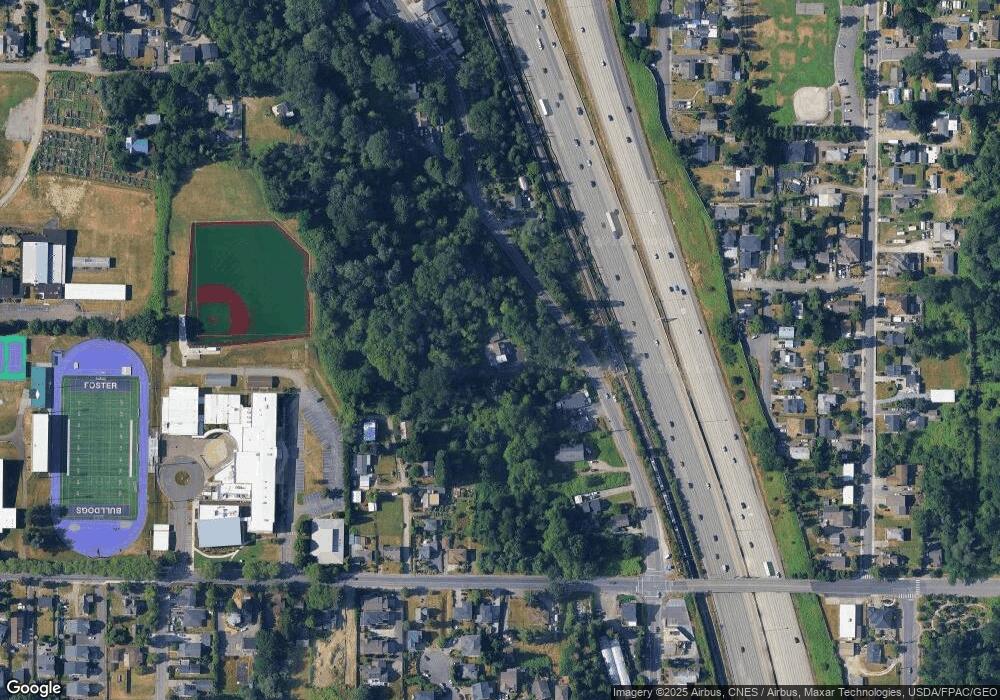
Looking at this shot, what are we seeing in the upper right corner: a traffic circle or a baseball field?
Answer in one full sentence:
Looking in the upper right corner, you will find a baseball field.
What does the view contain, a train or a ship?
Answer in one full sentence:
The one in the frame is a train.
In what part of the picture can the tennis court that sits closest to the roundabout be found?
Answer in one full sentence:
Look in the left portion of the view to spot the tennis court that sits closest to the roundabout.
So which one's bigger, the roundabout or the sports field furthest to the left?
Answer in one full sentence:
It is the sports field that is larger, not the roundabout.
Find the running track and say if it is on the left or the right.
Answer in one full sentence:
The running track appears in the left half of the scene.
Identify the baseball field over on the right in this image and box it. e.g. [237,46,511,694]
[793,88,829,125]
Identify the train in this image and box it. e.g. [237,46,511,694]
[650,457,688,562]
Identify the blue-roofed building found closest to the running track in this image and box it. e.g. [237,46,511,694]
[31,367,46,408]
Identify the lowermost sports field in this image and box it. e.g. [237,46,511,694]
[60,375,139,519]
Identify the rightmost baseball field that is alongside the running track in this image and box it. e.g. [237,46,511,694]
[188,221,311,347]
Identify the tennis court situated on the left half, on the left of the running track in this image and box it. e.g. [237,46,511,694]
[0,337,27,381]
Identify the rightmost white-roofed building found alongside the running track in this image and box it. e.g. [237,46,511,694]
[162,387,279,547]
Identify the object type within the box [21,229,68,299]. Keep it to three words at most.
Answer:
building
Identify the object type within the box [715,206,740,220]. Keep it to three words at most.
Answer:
house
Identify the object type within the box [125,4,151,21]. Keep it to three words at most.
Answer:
house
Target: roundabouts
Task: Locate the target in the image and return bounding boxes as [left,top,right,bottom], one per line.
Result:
[159,456,204,501]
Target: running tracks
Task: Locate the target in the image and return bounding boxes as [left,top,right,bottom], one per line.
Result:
[52,337,150,557]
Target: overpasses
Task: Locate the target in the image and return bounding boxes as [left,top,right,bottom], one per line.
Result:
[684,577,807,593]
